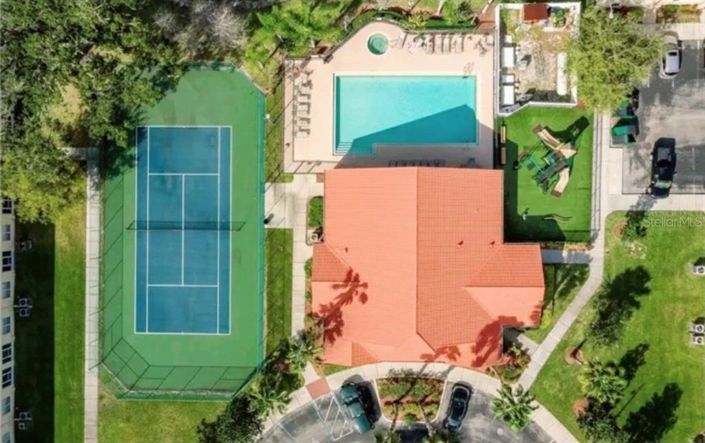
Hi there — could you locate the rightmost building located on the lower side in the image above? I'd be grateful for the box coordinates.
[312,165,545,371]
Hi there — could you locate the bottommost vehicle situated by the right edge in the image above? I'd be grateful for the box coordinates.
[653,139,679,194]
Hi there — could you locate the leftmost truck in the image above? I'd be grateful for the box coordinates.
[340,382,374,434]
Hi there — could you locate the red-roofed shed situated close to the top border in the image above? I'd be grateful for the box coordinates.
[518,5,549,26]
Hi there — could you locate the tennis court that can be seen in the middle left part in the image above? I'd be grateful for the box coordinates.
[102,68,265,393]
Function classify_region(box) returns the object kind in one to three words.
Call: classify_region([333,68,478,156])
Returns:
swimming pool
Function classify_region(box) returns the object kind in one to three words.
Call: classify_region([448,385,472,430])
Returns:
car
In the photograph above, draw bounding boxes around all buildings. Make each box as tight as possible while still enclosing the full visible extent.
[312,165,545,371]
[0,185,30,443]
[518,5,549,26]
